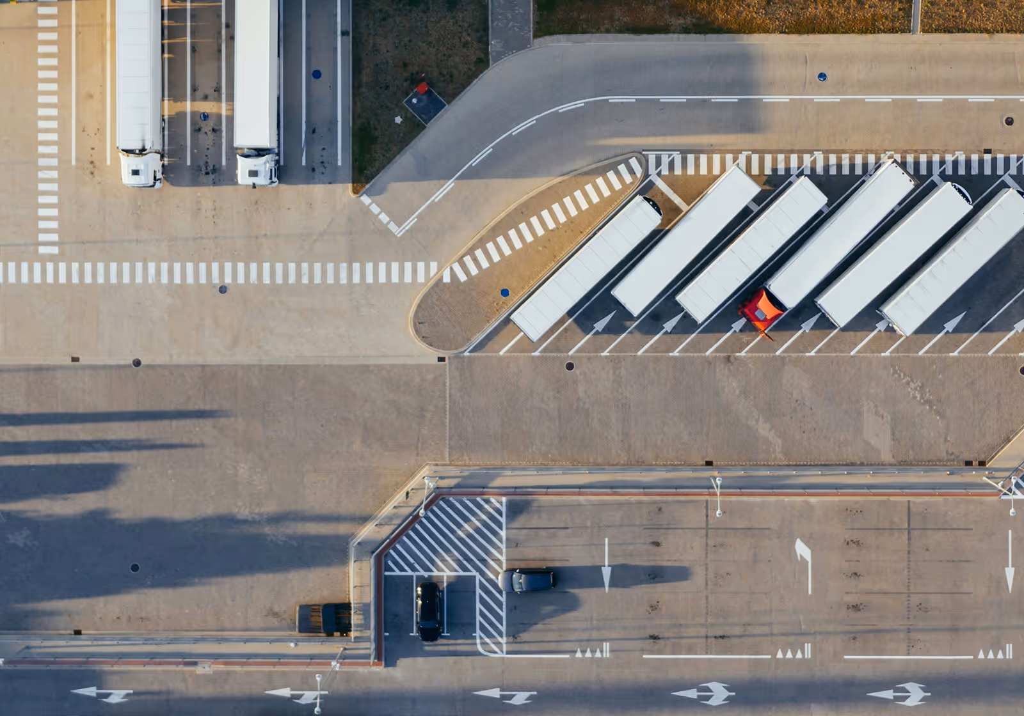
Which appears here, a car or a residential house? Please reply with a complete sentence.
I can see a car in this picture.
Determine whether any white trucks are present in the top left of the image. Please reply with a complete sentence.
Yes, there is a white truck in the top left of the image.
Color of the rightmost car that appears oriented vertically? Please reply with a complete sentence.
In this view, the rightmost car that appears oriented vertically is black.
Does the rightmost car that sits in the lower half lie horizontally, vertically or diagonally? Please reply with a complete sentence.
Seen from above, the rightmost car that sits in the lower half lies horizontally.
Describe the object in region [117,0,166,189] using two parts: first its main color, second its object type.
white truck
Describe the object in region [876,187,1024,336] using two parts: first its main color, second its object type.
white trailer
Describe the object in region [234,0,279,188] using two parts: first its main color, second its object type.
white truck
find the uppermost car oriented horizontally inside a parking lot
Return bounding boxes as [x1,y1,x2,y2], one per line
[500,568,556,596]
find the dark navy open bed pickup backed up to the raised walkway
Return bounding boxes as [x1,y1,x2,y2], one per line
[295,602,354,637]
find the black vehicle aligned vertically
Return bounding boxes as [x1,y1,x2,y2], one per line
[415,580,444,641]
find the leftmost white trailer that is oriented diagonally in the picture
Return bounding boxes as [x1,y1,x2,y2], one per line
[510,194,663,342]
